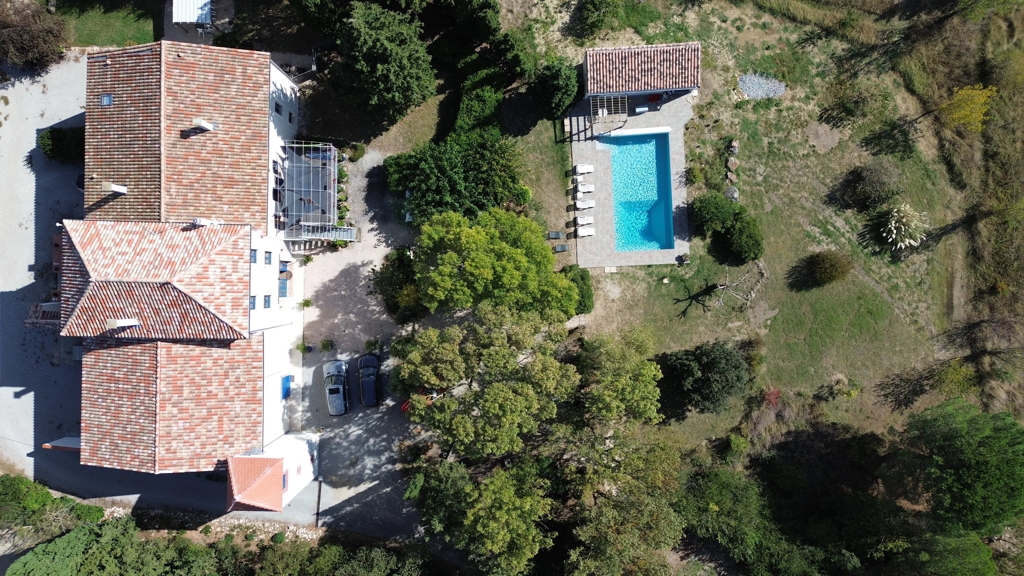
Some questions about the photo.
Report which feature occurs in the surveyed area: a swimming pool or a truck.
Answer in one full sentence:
Of the two, only a swimming pool appears.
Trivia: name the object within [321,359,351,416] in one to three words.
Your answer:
car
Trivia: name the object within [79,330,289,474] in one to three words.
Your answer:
house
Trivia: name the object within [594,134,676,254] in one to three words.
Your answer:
swimming pool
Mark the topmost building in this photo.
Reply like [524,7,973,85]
[585,41,702,97]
